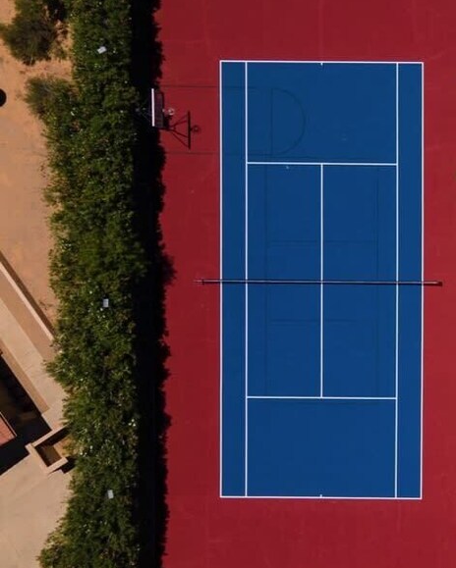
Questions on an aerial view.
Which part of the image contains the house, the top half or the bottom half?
bottom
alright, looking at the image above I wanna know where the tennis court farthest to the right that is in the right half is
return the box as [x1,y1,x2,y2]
[160,0,456,568]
